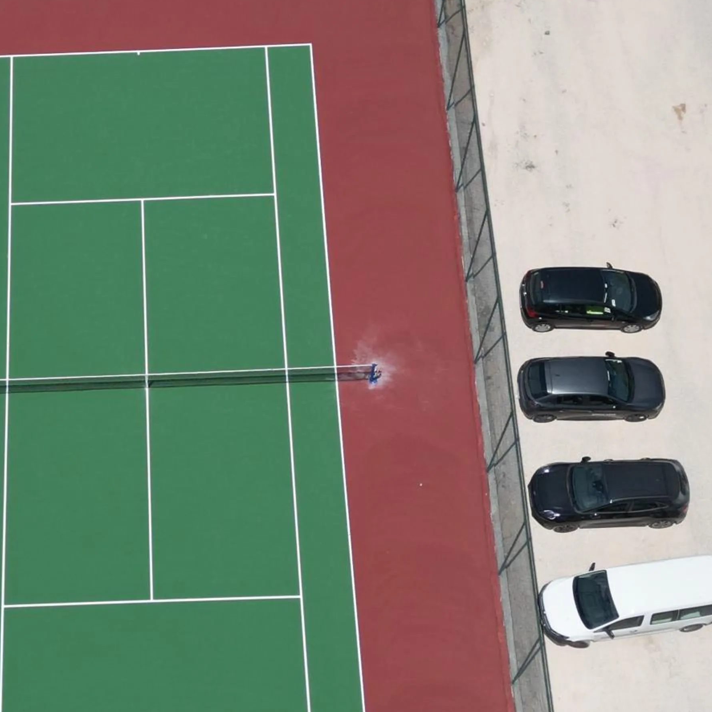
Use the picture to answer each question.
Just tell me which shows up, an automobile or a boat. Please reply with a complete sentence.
This aerial view contains an automobile.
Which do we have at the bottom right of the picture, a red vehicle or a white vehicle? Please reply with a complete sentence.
What appears at the bottom right of the picture is a white vehicle.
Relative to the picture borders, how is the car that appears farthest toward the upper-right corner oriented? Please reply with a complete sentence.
In this picture, the car that appears farthest toward the upper-right corner lies from left to right.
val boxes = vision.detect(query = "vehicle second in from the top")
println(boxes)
[518,348,665,421]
